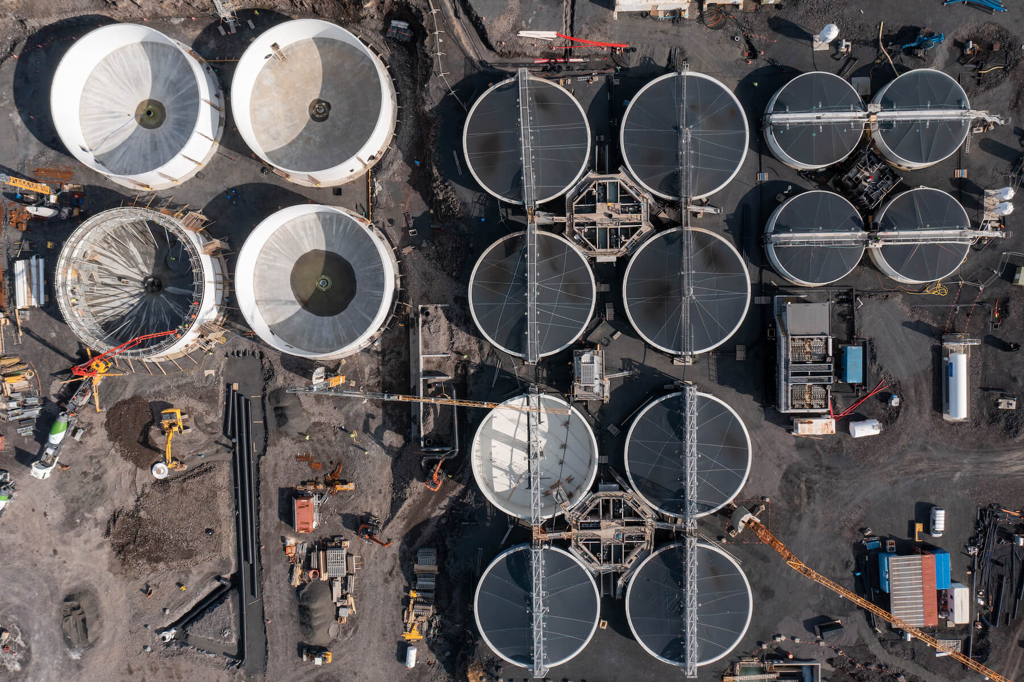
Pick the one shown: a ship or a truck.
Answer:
truck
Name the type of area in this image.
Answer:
industrial area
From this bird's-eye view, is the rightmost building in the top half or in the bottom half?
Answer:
bottom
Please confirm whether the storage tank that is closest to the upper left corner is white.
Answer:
Yes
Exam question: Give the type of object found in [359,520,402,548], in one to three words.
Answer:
work vehicle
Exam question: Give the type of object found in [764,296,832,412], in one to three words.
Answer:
building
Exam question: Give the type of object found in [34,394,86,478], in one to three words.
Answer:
truck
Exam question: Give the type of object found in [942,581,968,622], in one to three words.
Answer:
building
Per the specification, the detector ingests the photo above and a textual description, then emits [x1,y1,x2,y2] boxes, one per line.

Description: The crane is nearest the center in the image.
[287,365,571,414]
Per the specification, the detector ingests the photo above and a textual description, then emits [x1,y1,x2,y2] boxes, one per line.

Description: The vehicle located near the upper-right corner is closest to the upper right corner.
[868,34,936,68]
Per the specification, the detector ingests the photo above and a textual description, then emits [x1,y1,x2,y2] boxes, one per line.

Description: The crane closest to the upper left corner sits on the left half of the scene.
[0,168,64,219]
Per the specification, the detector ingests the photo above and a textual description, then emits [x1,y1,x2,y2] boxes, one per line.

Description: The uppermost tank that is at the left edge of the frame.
[49,23,227,193]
